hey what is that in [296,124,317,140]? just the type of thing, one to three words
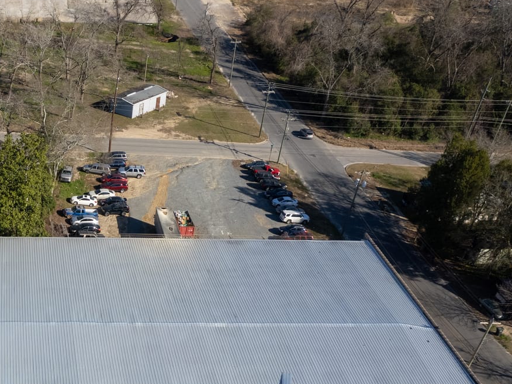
car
